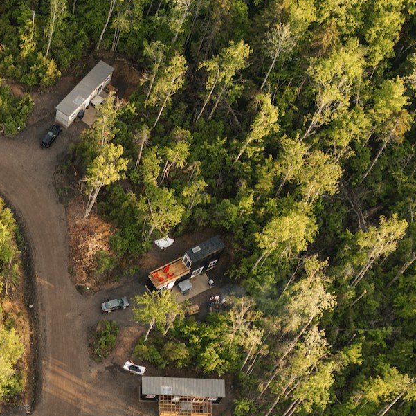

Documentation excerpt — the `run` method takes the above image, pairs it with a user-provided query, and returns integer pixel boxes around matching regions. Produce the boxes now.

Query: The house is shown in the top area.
[54,60,114,128]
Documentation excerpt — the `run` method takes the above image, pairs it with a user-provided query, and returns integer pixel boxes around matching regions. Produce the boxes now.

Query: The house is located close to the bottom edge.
[139,377,225,406]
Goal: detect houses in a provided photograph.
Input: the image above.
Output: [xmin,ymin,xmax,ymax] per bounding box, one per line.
[54,60,114,128]
[146,235,225,294]
[139,377,225,406]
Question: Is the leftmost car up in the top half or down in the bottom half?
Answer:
top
